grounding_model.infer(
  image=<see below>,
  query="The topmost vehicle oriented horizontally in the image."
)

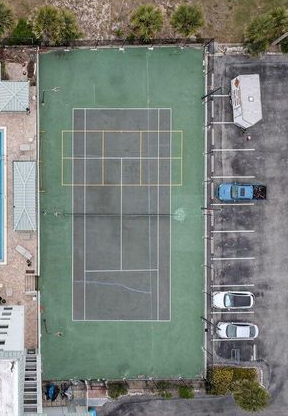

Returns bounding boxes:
[216,182,268,202]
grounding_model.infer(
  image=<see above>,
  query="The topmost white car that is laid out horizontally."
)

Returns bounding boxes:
[212,290,254,310]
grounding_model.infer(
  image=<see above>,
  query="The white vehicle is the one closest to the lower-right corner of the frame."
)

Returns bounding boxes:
[216,320,258,340]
